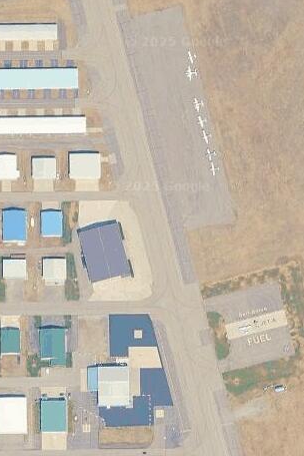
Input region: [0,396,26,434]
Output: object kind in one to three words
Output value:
hangar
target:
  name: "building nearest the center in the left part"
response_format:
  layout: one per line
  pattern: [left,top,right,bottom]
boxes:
[77,222,132,284]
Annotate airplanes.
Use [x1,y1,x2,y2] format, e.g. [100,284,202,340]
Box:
[186,66,196,81]
[239,323,252,332]
[197,116,206,129]
[206,149,215,162]
[187,51,196,64]
[193,100,202,111]
[210,163,219,176]
[201,130,211,144]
